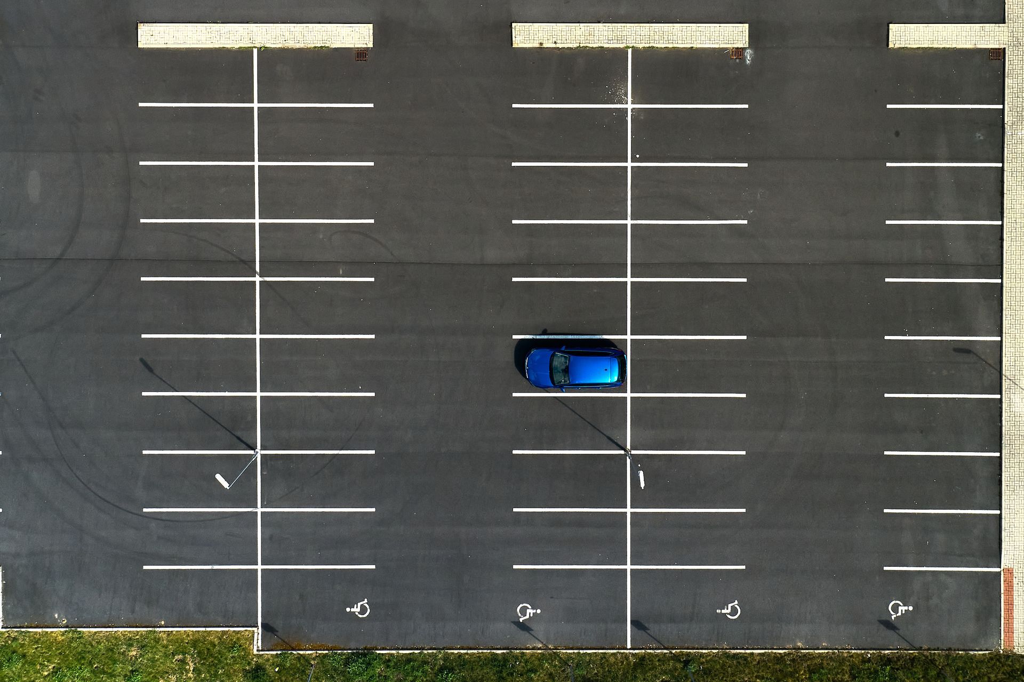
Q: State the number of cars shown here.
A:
1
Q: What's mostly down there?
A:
paved ground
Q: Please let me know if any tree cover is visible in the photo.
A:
No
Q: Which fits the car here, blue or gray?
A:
blue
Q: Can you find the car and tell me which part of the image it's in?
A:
center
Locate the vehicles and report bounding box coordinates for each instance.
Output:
[525,344,627,394]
